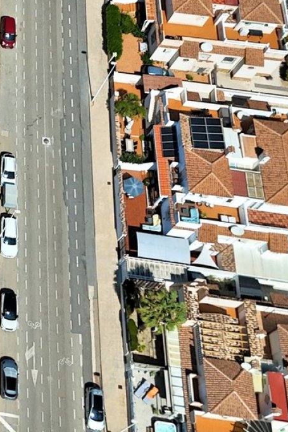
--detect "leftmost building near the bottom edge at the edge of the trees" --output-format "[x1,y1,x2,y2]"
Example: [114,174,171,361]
[165,285,263,432]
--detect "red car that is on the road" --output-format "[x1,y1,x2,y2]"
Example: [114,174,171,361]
[0,15,18,50]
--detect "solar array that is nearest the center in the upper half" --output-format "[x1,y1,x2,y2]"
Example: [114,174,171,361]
[158,123,175,165]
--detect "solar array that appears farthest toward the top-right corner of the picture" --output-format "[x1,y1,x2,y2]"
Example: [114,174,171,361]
[190,117,225,148]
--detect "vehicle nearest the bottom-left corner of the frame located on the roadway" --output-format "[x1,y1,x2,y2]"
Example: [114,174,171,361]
[0,356,19,402]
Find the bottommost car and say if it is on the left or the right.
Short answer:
left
